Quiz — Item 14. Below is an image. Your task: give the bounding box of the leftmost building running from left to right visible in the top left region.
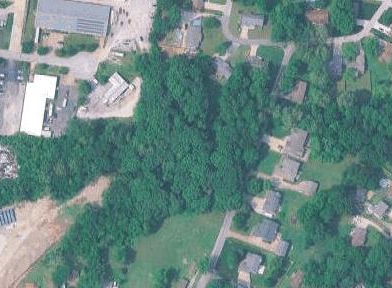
[33,0,111,35]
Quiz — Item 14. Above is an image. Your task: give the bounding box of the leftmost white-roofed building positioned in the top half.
[20,74,57,135]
